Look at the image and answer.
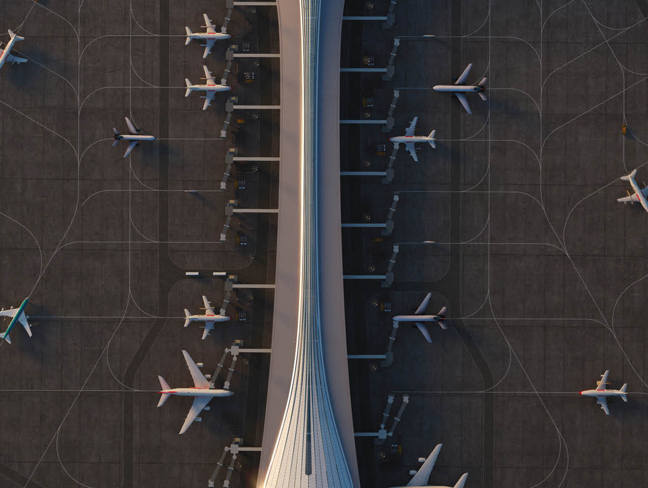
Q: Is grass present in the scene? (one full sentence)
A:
No, no grass is visible.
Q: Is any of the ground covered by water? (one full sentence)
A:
No, the picture contains no water.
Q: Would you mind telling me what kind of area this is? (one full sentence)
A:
This image shows an airport.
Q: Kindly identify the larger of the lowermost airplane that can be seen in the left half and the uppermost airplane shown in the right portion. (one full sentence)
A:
Compared with the uppermost airplane shown in the right portion, the lowermost airplane that can be seen in the left half is the larger one.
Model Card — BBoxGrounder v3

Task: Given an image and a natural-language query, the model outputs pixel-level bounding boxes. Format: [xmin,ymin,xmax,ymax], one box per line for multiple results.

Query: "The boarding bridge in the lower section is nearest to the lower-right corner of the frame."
[355,393,408,444]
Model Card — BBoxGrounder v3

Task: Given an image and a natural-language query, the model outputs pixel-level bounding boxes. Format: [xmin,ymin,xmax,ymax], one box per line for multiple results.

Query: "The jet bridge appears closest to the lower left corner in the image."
[208,435,261,487]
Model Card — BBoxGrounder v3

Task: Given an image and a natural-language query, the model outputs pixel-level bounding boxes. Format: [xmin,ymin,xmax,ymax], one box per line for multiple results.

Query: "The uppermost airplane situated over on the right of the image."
[433,62,487,115]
